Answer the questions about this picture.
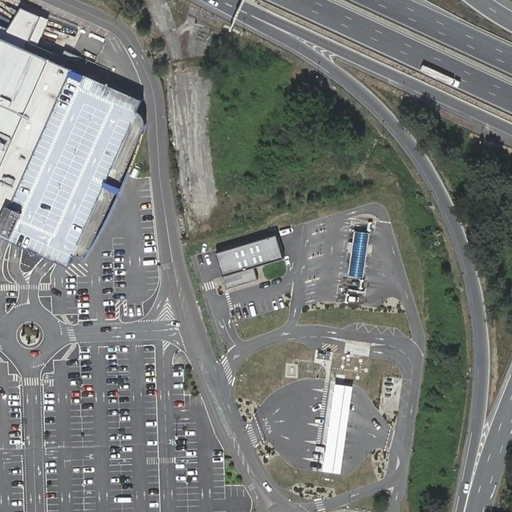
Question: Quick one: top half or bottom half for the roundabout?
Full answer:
You can find the roundabout in the bottom half.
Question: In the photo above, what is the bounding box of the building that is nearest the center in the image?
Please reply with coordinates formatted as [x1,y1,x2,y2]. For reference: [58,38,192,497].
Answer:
[216,236,282,288]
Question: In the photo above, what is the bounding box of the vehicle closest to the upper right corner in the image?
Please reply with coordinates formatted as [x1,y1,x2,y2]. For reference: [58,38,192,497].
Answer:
[420,62,458,85]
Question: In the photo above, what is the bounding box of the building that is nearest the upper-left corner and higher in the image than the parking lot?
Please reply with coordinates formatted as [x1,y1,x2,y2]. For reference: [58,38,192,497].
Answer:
[6,8,53,56]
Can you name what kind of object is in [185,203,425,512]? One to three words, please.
service area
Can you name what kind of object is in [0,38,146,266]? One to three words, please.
building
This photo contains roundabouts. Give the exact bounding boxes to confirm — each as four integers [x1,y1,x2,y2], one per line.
[0,302,63,368]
